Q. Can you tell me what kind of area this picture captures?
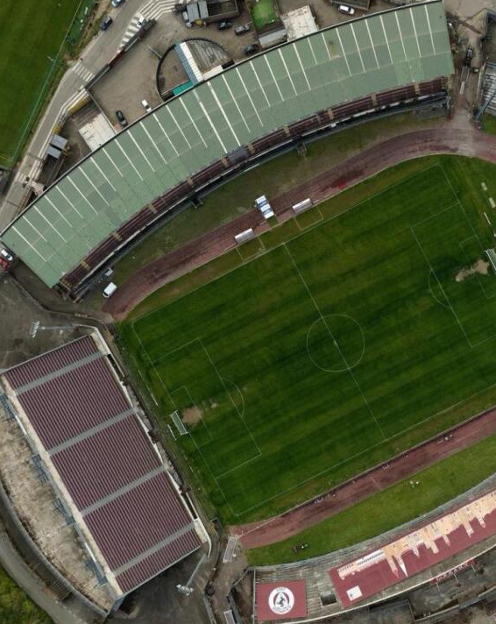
sports ground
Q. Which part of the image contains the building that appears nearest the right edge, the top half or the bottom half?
top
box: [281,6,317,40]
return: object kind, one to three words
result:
building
